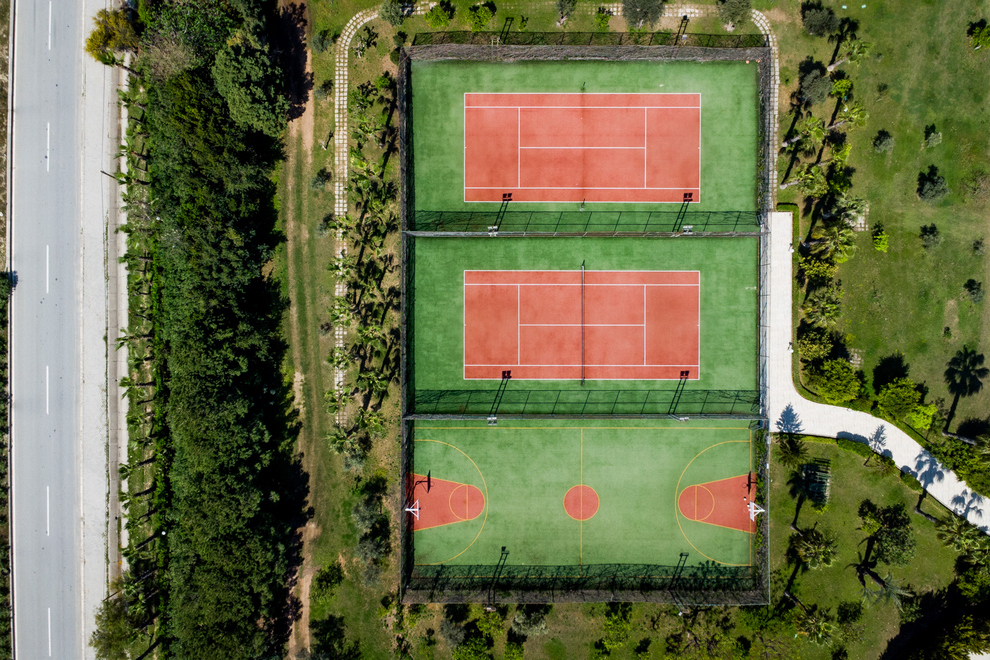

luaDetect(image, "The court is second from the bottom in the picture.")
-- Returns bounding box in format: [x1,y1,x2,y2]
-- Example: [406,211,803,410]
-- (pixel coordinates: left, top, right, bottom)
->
[405,236,758,414]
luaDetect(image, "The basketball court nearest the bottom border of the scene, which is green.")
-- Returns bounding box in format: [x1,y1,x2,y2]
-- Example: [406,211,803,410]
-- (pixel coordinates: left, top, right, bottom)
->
[405,414,758,590]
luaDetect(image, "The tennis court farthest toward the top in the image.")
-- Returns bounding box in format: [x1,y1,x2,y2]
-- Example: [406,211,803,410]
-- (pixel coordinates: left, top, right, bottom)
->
[405,60,758,236]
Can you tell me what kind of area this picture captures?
sports ground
